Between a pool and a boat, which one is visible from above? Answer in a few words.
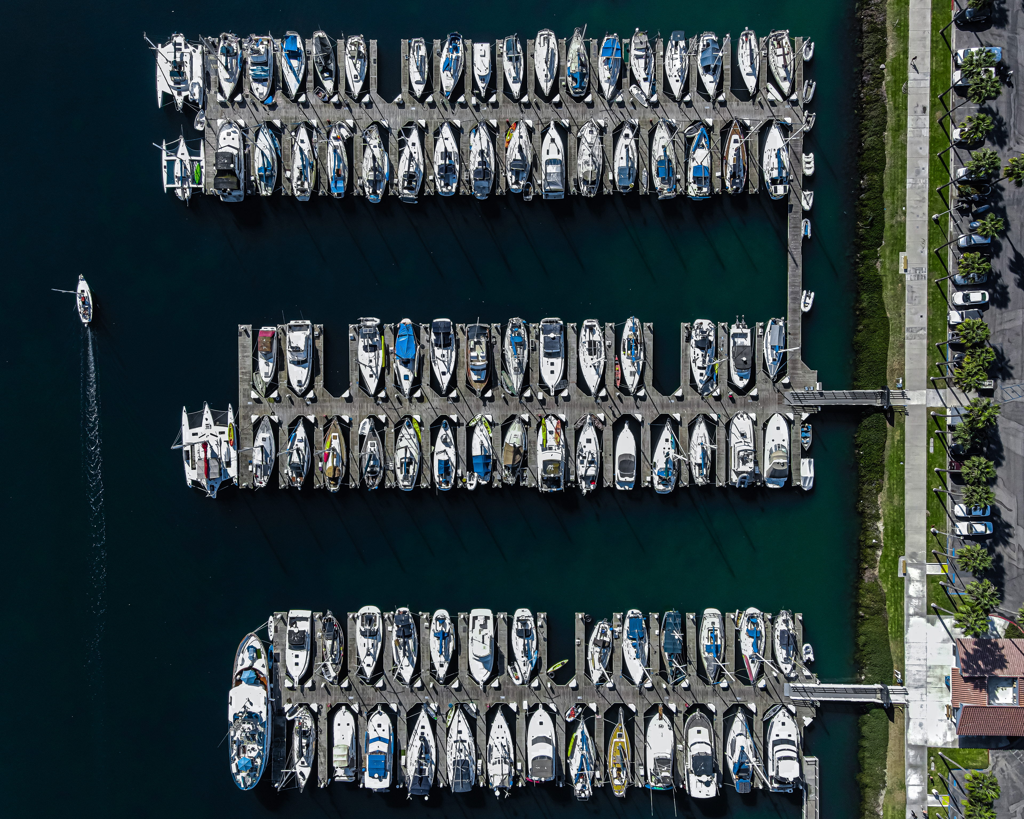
boat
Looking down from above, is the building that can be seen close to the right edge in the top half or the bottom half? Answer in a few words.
bottom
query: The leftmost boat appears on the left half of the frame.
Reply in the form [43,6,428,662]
[50,273,95,327]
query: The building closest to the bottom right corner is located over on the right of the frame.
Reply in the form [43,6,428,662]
[946,636,1024,736]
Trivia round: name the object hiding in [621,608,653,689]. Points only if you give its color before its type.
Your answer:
white boat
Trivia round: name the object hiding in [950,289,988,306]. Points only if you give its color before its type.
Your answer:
white car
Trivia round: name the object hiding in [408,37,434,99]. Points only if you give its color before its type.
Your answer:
white boat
